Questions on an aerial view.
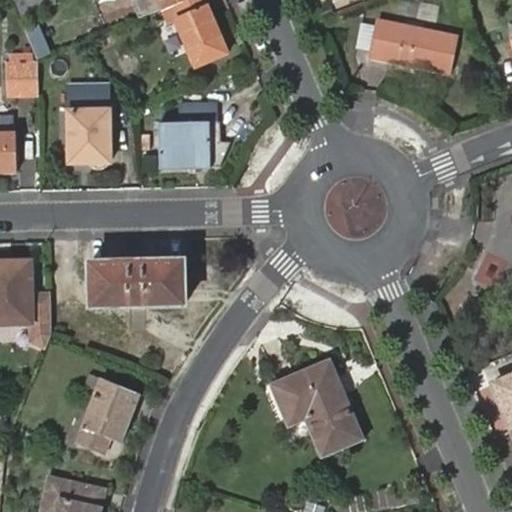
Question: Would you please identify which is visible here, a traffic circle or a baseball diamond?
traffic circle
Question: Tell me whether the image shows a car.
Yes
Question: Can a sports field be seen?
No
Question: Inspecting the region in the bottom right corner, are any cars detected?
No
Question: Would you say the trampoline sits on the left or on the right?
left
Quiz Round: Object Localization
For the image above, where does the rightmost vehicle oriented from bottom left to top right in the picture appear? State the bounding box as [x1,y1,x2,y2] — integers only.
[312,162,335,179]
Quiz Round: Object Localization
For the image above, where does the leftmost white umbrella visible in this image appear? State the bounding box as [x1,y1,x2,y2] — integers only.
[14,332,28,346]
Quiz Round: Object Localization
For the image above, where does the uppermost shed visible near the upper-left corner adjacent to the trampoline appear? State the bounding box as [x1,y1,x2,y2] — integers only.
[26,25,50,58]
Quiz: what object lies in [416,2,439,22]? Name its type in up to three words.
shed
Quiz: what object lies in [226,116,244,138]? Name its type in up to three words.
car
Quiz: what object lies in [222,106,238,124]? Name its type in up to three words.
car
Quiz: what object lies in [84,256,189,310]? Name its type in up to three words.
house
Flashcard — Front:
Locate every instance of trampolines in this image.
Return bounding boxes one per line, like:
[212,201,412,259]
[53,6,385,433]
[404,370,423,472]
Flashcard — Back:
[49,57,70,78]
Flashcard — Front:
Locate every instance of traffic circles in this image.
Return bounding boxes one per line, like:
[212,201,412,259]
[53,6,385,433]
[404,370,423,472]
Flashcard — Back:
[272,123,432,293]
